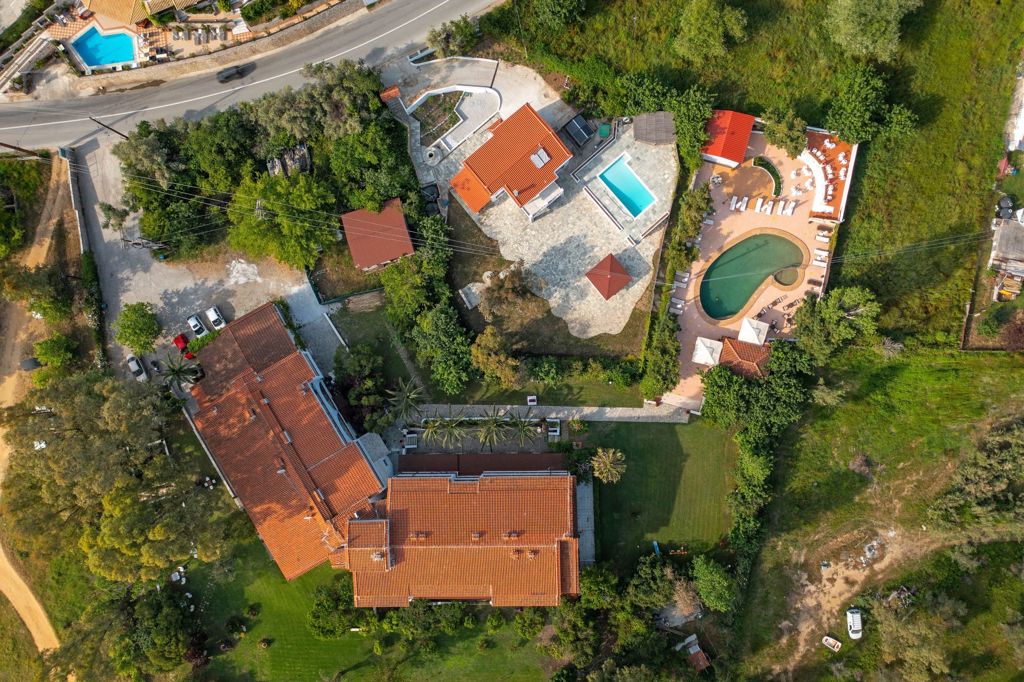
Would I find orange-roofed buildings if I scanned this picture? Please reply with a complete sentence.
Yes, looking at the shot, I can spot an orange-roofed building.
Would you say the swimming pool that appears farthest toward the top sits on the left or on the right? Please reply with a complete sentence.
The swimming pool that appears farthest toward the top is on the left side of the image.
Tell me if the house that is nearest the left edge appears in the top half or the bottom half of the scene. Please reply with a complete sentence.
You can find the house that is nearest the left edge in the top half.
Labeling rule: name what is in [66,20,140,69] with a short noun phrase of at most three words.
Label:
swimming pool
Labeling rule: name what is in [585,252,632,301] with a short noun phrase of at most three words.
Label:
gazebo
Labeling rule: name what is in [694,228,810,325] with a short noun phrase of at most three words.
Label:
swimming pool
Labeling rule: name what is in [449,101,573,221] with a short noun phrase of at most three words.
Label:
house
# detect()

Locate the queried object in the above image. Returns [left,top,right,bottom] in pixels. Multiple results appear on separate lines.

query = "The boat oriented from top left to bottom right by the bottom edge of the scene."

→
[822,637,842,652]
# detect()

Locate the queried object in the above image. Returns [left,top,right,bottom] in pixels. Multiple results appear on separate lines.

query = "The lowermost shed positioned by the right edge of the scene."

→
[981,219,1024,279]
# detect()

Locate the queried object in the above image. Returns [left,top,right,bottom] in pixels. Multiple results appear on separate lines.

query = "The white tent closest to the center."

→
[688,337,723,366]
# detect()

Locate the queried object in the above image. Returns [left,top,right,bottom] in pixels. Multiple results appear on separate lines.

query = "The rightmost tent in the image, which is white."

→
[738,317,769,345]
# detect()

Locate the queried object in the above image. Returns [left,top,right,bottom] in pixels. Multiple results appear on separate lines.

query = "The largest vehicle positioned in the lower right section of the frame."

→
[844,607,864,640]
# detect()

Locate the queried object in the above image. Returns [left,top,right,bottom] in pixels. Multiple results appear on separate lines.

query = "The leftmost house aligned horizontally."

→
[83,0,155,32]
